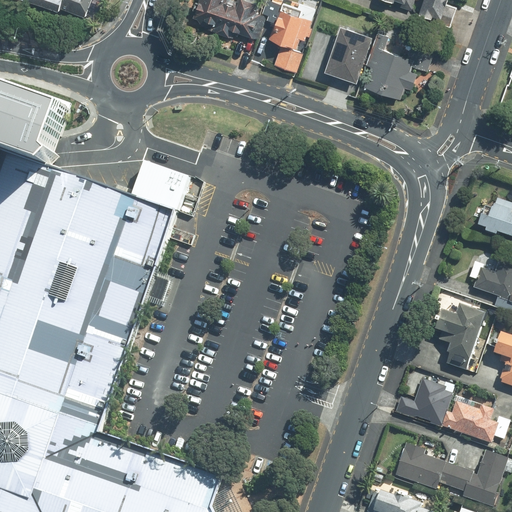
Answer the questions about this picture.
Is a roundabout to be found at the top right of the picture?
No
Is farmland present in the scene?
No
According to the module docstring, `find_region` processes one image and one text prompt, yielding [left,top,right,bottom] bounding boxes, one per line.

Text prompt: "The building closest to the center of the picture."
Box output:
[132,160,192,213]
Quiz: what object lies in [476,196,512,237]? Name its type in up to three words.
house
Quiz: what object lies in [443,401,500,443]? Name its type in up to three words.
house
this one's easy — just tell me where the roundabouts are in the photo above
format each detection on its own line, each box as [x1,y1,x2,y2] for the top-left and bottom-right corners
[111,55,148,92]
